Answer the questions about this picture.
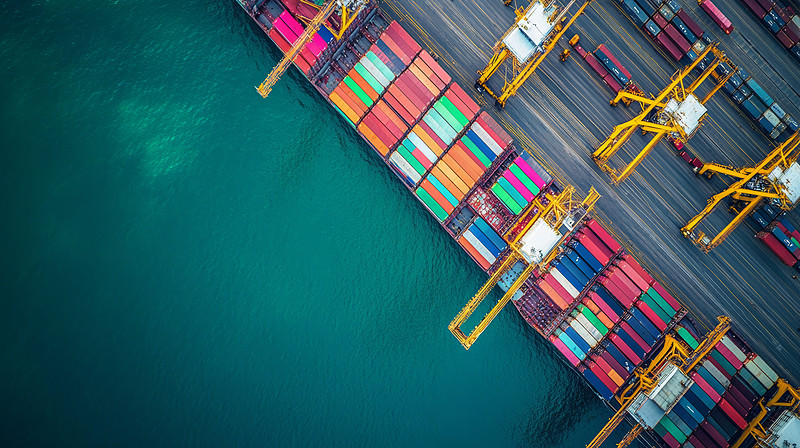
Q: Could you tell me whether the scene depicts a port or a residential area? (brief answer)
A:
port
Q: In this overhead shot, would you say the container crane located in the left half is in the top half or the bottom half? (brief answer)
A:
top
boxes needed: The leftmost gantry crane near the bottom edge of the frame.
[585,314,733,448]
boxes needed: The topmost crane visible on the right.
[472,0,592,109]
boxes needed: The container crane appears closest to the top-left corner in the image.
[253,0,379,100]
